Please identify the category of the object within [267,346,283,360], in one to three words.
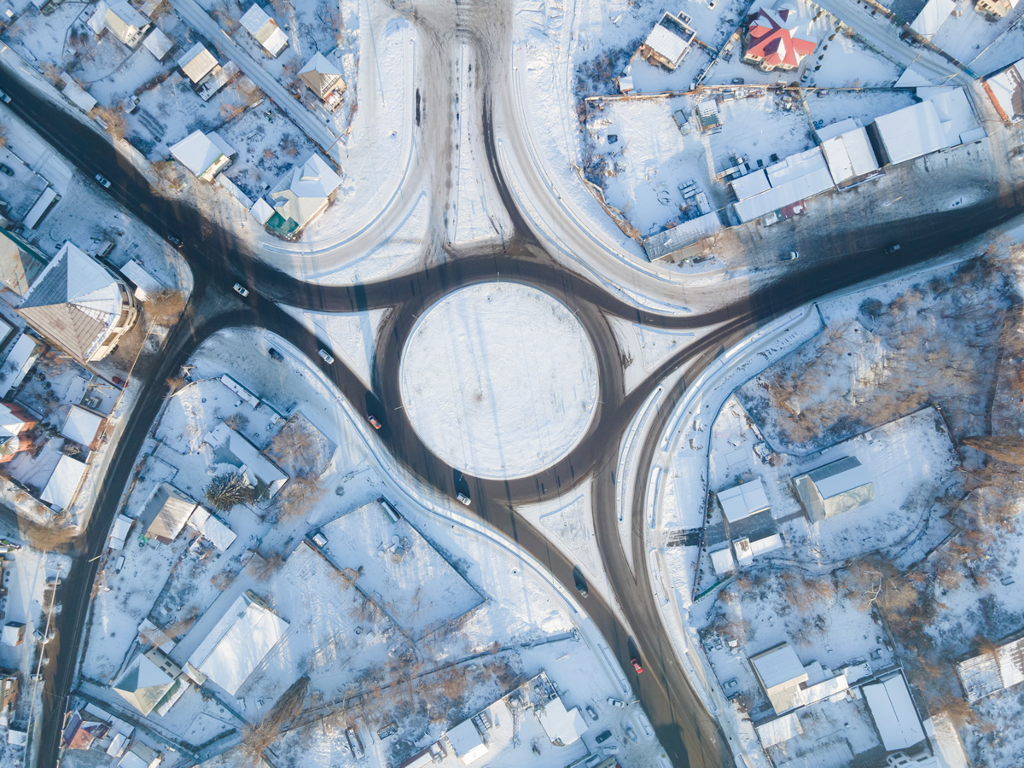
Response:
car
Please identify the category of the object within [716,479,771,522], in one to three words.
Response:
building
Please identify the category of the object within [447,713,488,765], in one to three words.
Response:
house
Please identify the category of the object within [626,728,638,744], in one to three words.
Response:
vehicle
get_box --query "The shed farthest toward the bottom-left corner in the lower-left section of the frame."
[8,726,33,746]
